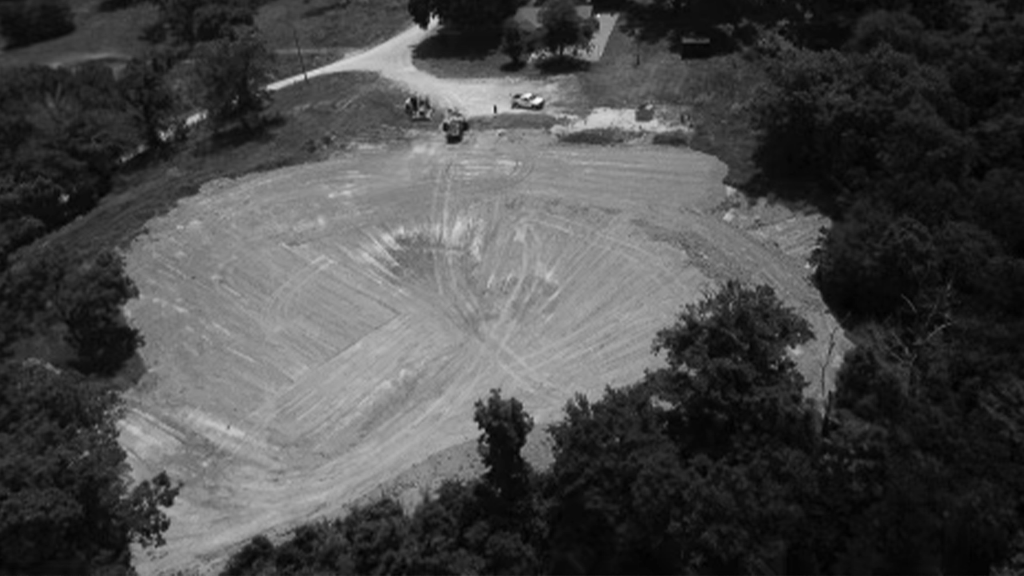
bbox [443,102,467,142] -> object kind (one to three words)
work vehicle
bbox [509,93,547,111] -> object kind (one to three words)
vehicle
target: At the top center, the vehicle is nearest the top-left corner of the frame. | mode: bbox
[406,87,435,126]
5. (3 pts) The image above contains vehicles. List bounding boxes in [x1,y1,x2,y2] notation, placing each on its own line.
[509,93,547,111]
[443,102,467,142]
[406,87,435,126]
